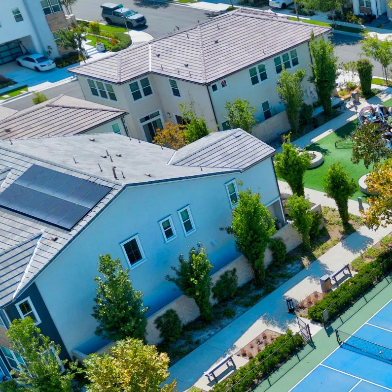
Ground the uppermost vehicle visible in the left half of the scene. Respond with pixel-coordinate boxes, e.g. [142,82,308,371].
[100,5,146,28]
